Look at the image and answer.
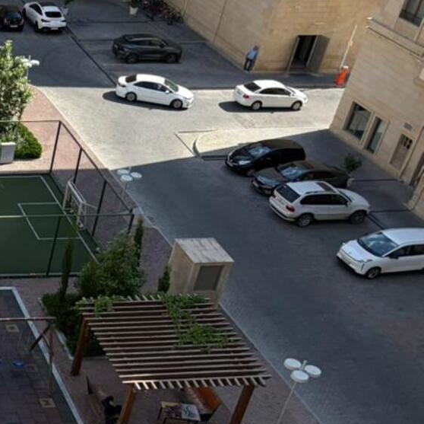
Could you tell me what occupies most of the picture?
paved ground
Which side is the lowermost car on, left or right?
right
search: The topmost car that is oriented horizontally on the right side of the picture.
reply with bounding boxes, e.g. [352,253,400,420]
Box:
[233,77,312,109]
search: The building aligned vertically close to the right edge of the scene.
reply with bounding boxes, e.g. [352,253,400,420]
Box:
[329,0,424,214]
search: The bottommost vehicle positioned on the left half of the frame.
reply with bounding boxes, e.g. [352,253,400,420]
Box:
[118,71,198,108]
